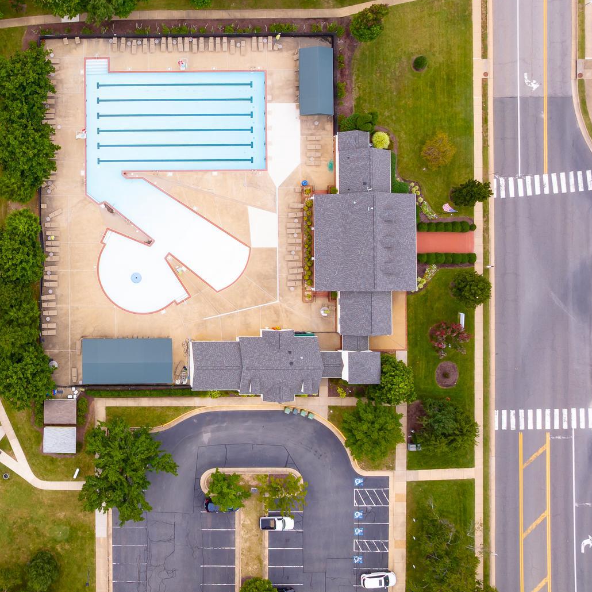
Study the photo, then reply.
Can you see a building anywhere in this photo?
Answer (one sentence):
Yes, the frame does contain a building.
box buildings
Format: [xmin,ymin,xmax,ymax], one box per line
[191,331,345,402]
[82,338,172,385]
[44,398,76,424]
[309,131,417,352]
[44,425,76,453]
[297,46,335,115]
